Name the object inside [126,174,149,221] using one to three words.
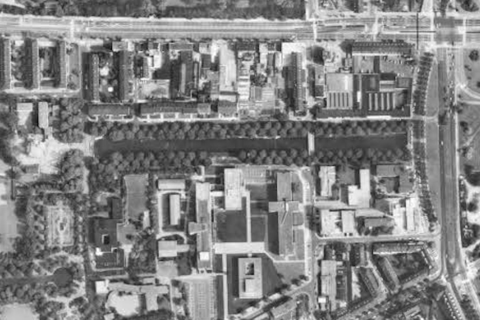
sports field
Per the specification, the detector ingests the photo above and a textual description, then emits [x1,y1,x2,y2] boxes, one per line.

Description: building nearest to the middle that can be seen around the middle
[223,169,241,210]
